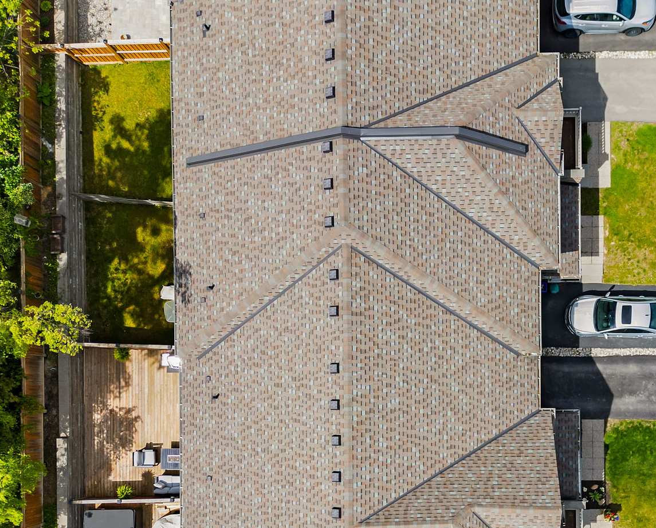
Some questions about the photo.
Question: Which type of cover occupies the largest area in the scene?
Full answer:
For the most part, this view shows buildings.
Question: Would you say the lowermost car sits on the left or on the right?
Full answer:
The lowermost car sits on the right side.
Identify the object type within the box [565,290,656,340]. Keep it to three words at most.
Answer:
car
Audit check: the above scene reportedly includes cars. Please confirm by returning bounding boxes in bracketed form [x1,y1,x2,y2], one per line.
[551,0,655,34]
[565,290,656,340]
